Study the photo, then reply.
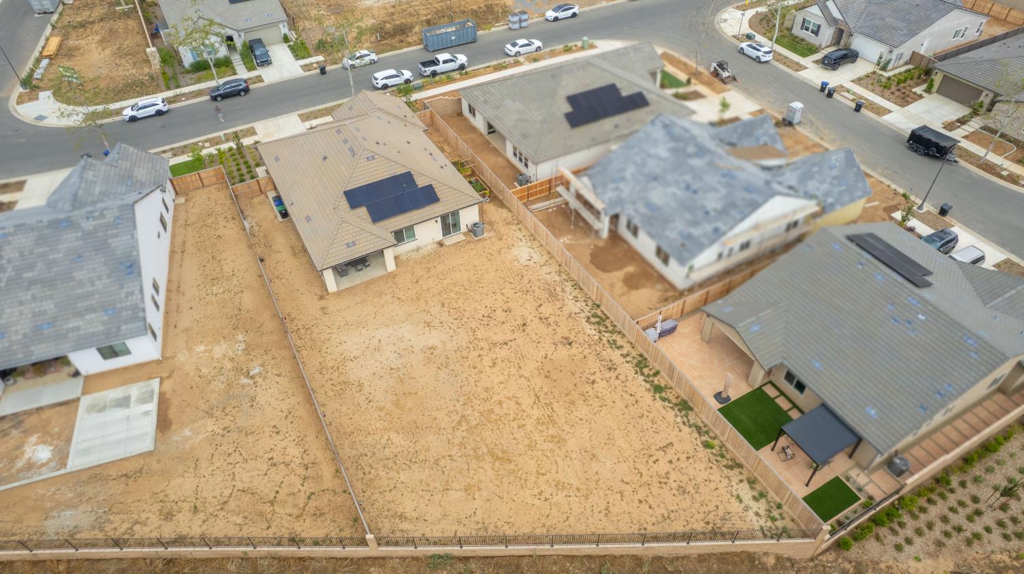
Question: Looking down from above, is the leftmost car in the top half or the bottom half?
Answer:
top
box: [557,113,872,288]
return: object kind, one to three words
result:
house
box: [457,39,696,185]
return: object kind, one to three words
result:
house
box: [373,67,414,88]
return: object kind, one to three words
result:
car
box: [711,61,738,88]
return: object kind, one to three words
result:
work vehicle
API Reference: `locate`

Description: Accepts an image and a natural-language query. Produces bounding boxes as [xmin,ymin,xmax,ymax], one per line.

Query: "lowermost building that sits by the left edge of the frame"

[0,143,178,397]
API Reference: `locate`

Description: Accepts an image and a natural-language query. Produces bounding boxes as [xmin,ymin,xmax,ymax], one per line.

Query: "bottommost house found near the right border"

[699,221,1024,473]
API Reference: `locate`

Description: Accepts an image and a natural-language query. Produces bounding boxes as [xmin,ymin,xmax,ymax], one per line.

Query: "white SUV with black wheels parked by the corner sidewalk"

[121,93,166,119]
